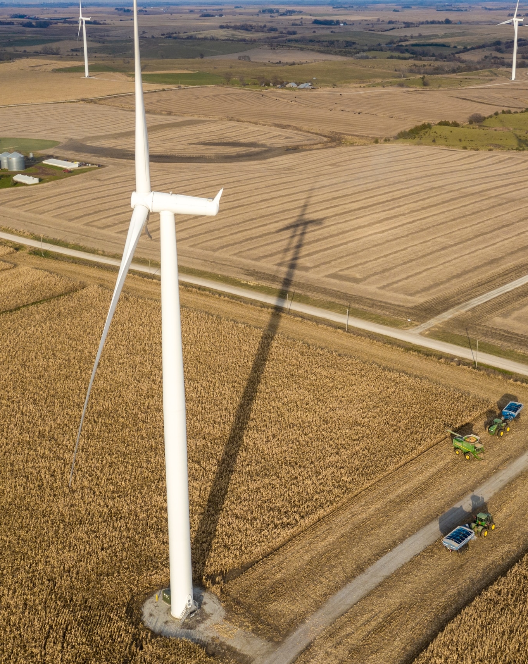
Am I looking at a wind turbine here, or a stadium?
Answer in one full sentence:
This aerial view contains a wind turbine.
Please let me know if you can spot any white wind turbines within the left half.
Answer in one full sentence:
Yes, the scene does show a white wind turbine within the left half.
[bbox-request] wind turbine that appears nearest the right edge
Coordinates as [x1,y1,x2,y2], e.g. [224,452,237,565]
[500,0,525,81]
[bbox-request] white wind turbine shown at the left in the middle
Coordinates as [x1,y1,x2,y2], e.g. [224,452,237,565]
[65,0,217,634]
